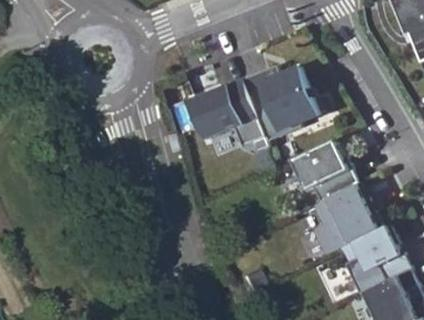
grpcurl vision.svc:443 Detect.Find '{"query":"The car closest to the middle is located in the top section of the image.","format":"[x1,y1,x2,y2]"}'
[227,58,242,81]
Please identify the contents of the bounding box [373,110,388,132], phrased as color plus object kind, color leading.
white car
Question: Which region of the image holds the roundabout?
top left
